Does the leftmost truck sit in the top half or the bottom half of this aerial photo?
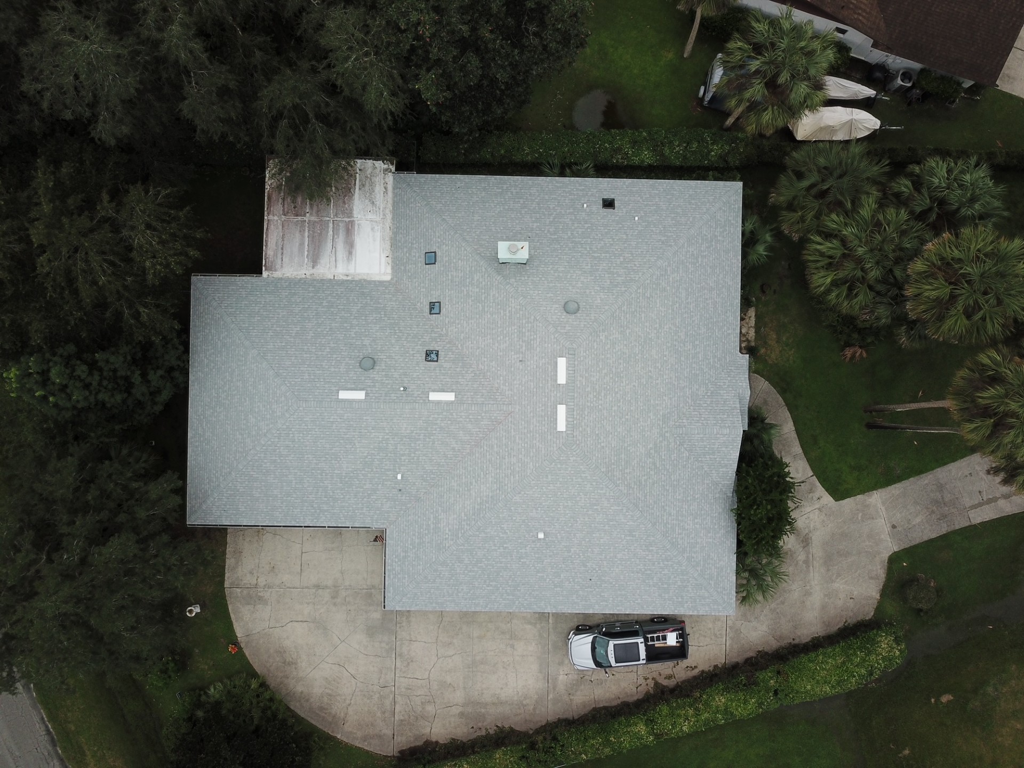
bottom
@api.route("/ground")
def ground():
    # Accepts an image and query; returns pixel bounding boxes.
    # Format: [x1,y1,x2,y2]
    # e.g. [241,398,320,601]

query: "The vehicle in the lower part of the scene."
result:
[567,615,691,676]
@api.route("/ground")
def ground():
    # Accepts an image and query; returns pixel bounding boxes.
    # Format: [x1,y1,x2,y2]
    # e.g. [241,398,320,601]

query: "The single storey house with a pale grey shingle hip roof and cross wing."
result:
[185,168,754,617]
